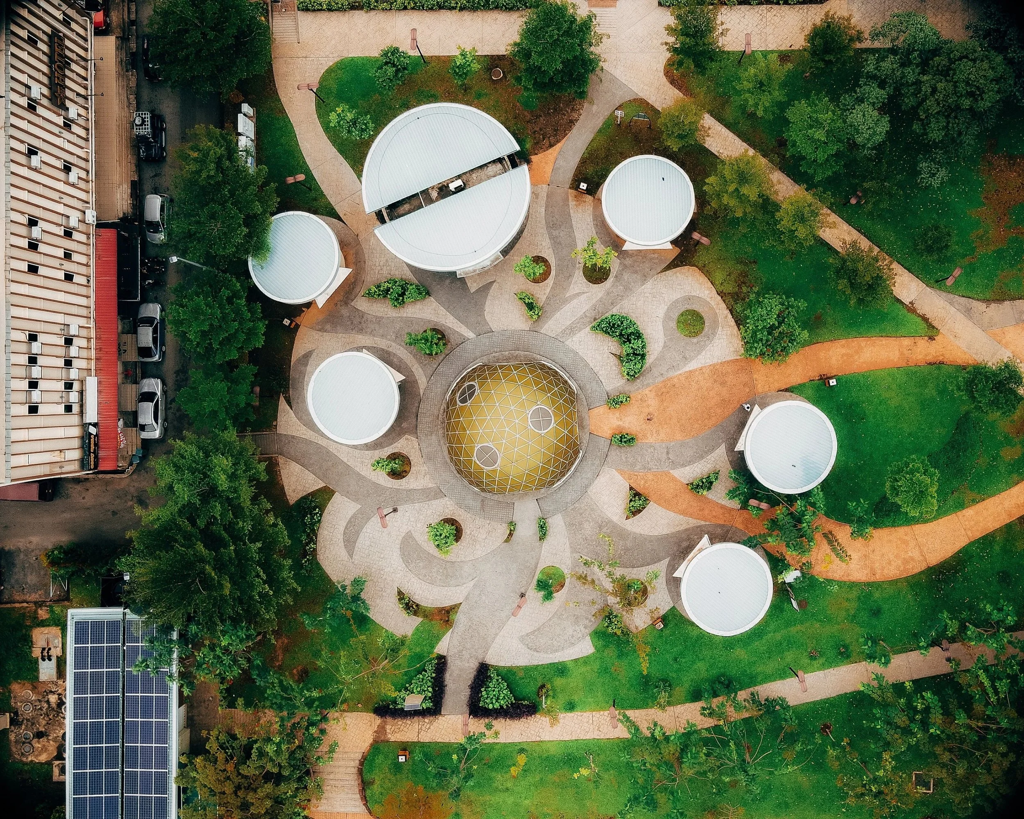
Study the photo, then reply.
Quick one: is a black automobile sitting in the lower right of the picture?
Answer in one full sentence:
No, no black automobile is visible in the lower right of the picture.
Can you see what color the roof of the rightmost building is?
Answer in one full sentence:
From above, the roof of the rightmost building looks white.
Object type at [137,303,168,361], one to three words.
car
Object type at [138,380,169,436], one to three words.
car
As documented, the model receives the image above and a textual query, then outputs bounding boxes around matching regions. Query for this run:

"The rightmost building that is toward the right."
[735,401,837,494]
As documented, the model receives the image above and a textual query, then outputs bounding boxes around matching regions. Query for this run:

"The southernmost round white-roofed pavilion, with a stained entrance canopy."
[672,535,773,636]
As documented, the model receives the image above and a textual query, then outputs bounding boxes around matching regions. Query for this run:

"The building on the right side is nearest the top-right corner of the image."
[602,154,694,250]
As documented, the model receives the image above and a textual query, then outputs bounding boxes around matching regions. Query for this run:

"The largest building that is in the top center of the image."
[362,102,531,278]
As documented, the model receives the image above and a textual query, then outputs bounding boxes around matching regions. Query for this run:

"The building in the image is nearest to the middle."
[307,349,405,445]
